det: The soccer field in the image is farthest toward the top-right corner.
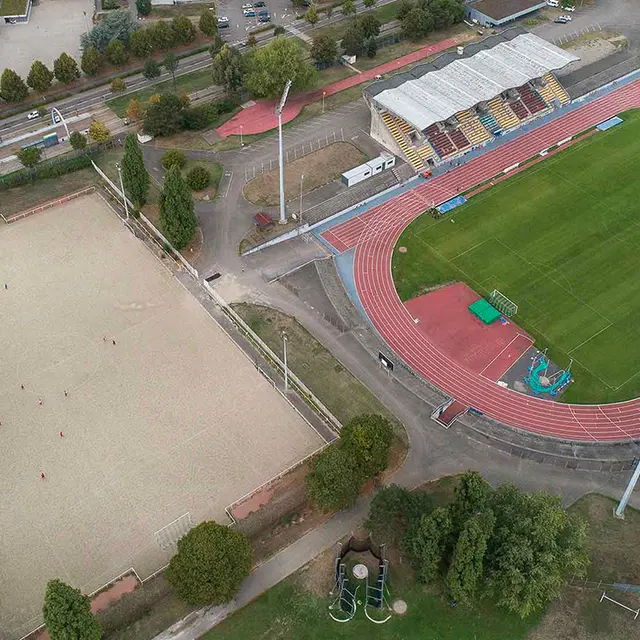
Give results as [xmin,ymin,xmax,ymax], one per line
[391,105,640,406]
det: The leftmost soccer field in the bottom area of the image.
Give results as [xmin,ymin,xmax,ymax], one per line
[0,183,322,640]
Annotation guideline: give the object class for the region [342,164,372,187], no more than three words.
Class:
building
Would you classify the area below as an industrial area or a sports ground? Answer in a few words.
sports ground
